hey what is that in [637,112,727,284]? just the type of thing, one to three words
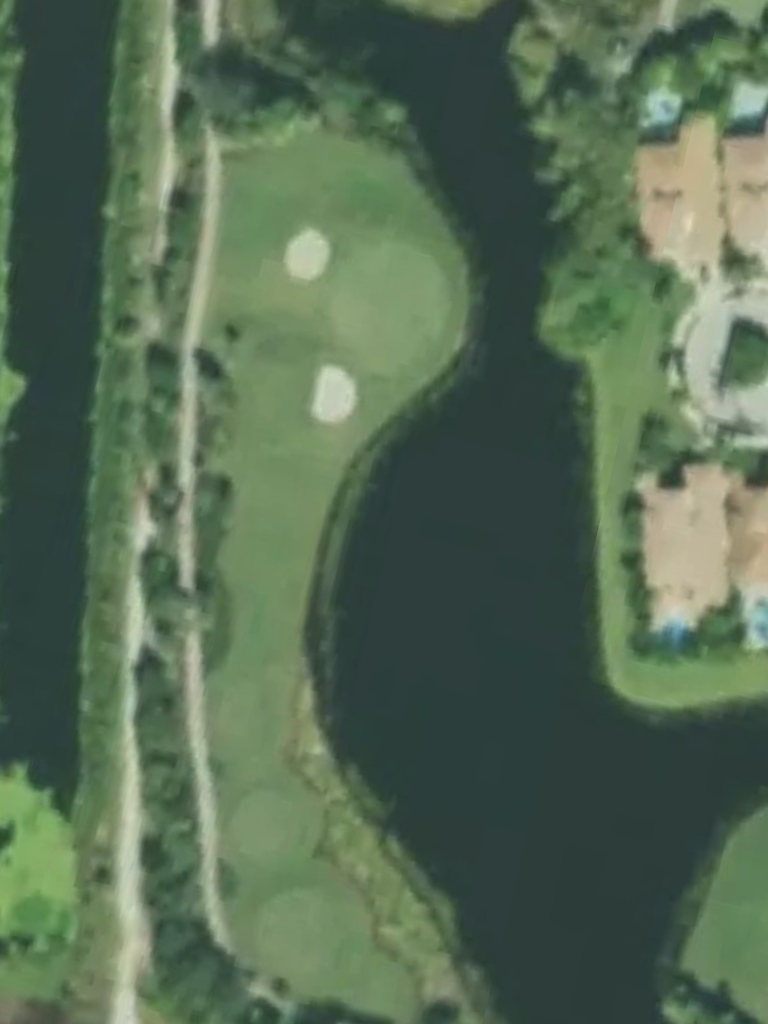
house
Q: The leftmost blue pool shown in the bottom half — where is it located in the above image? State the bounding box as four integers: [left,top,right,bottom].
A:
[657,615,697,652]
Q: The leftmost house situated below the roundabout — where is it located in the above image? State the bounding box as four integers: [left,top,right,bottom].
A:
[638,464,734,630]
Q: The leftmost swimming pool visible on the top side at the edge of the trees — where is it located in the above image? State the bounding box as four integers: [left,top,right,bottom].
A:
[644,91,681,141]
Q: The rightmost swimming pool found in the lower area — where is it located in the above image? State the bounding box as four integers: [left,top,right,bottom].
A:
[738,584,768,649]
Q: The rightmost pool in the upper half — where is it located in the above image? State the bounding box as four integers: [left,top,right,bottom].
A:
[731,81,768,137]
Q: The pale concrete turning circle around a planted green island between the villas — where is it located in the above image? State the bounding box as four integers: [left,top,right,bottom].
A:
[687,284,768,436]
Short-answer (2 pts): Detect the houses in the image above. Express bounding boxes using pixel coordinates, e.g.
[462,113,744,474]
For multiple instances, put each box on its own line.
[638,464,734,630]
[729,487,768,586]
[637,112,727,284]
[722,111,768,275]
